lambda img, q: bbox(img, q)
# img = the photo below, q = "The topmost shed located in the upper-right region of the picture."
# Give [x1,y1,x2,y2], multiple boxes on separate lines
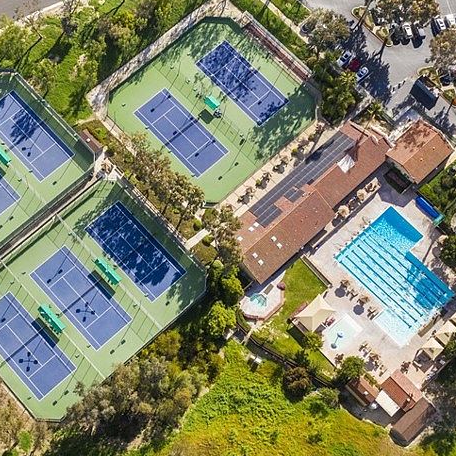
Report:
[406,79,442,114]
